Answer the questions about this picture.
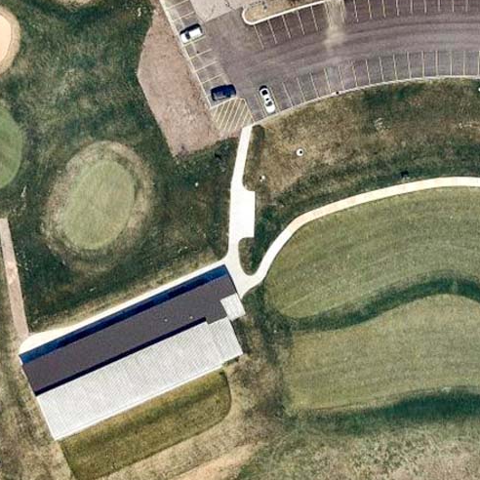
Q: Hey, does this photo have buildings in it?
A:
Yes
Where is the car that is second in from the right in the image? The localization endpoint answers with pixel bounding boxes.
[211,86,237,102]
